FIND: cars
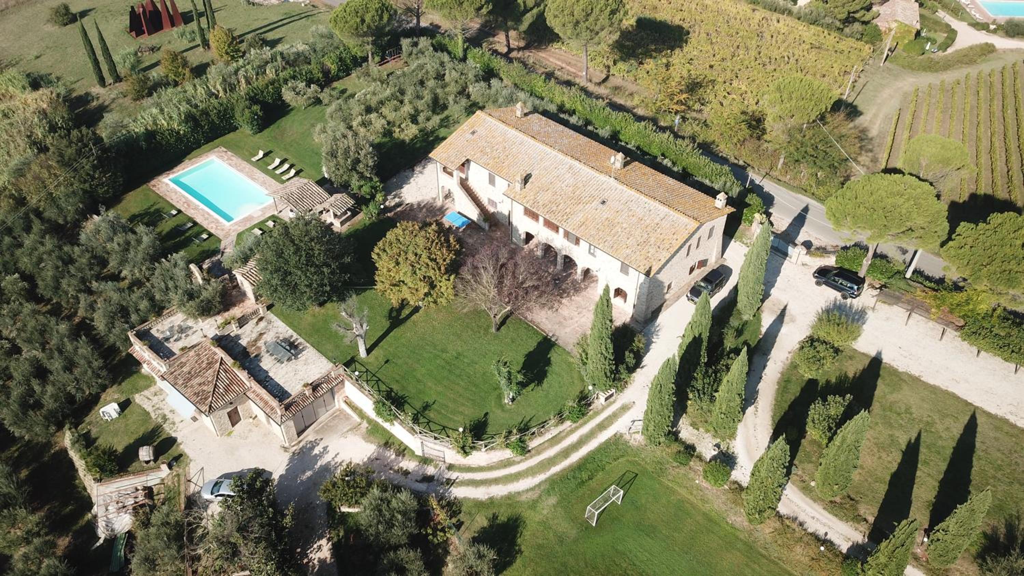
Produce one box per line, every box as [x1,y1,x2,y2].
[687,264,732,306]
[808,261,869,298]
[199,480,260,511]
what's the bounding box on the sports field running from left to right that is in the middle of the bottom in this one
[395,454,807,576]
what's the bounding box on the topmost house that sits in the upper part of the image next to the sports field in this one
[428,102,737,319]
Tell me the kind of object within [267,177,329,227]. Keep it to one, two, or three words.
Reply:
building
